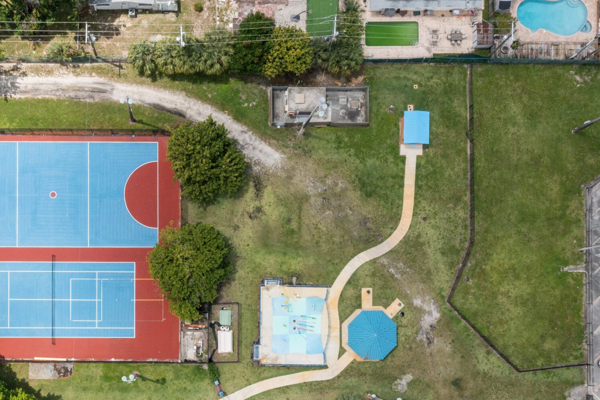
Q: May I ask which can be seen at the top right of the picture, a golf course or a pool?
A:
pool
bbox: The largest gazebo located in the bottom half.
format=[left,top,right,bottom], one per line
[342,306,397,361]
